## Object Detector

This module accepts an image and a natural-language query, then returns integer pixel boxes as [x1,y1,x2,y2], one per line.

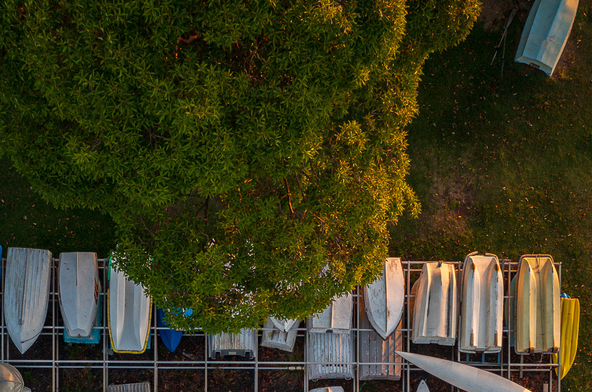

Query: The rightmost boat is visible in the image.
[558,298,581,378]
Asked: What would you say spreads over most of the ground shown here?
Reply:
trees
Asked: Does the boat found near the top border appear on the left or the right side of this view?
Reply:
right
